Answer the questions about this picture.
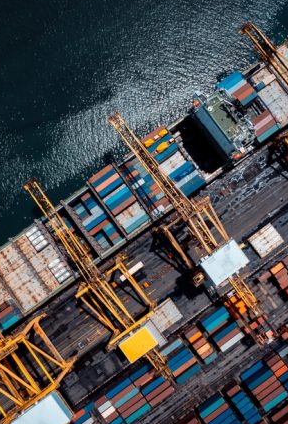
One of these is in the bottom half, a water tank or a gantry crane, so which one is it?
gantry crane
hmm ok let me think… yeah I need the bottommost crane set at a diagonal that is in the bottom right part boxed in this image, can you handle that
[223,290,277,348]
